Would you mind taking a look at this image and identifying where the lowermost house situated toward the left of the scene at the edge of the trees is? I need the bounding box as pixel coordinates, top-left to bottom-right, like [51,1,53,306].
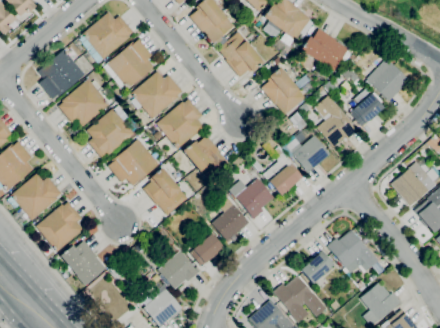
[144,286,180,326]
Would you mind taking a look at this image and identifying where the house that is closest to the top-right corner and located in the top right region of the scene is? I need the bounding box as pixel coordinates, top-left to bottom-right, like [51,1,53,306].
[364,61,404,102]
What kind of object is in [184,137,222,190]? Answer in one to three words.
house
